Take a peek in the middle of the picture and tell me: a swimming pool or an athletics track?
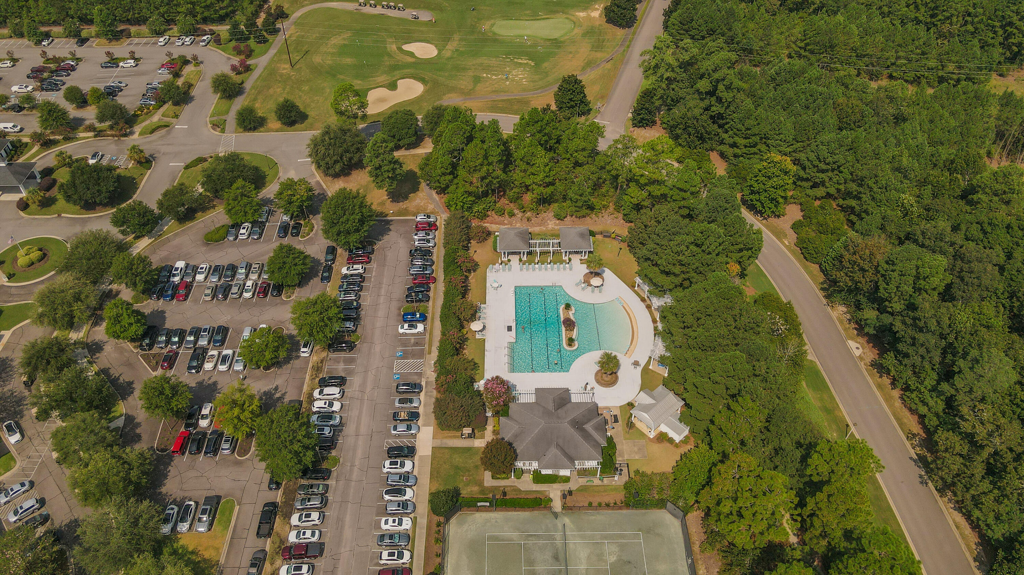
swimming pool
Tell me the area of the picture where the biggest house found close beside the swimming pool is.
bottom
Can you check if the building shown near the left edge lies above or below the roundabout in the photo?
above it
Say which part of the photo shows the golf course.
top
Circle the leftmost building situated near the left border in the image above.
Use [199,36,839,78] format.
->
[0,138,42,197]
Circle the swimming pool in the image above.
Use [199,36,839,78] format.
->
[476,259,654,417]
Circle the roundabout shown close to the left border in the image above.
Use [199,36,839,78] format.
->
[0,236,69,284]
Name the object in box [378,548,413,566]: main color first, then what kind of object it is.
white car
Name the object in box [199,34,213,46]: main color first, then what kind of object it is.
white vehicle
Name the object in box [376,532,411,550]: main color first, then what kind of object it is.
gray car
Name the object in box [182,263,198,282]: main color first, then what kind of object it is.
gray car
